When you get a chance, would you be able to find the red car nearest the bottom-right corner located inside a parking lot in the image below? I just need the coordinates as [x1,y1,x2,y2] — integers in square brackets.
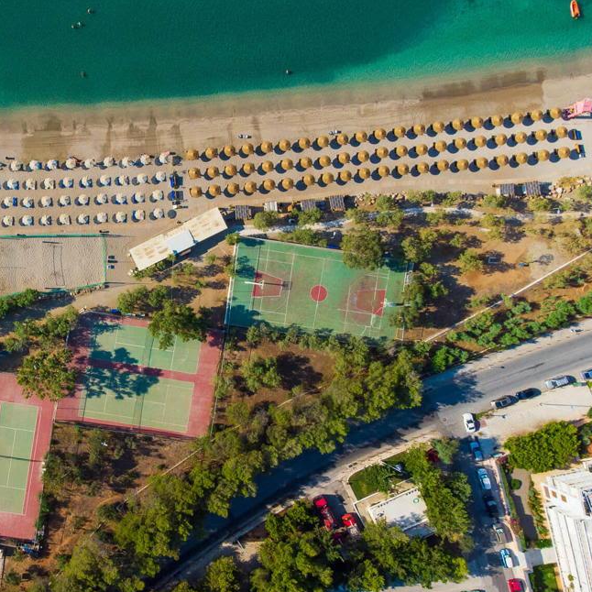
[509,577,521,592]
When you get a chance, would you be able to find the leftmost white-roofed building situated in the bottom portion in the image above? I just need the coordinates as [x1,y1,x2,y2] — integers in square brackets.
[364,486,433,537]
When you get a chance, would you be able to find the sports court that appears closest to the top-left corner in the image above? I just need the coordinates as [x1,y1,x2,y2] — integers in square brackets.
[0,236,106,299]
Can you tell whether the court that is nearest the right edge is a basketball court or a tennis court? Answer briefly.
basketball court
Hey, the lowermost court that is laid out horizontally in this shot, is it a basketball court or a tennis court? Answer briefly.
tennis court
